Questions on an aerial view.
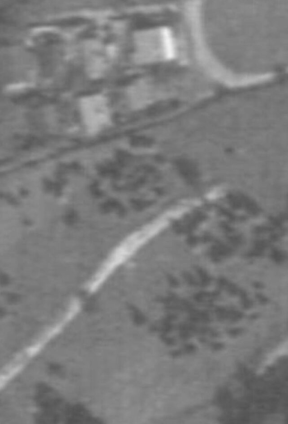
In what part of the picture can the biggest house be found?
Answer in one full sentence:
Look in the top portion of the view to spot the biggest house.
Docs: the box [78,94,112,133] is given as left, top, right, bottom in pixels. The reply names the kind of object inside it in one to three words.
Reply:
shed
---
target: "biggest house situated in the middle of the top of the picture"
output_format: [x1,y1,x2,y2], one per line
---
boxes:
[132,25,178,64]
